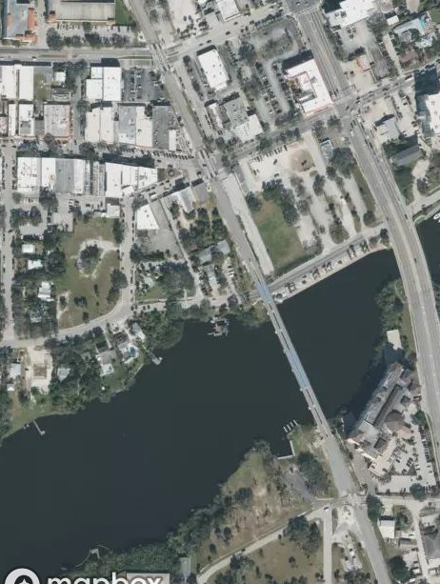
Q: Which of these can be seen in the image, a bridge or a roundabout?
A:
bridge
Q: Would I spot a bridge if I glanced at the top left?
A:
No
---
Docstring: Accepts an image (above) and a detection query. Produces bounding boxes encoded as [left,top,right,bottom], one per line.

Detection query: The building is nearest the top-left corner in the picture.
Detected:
[2,0,34,41]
